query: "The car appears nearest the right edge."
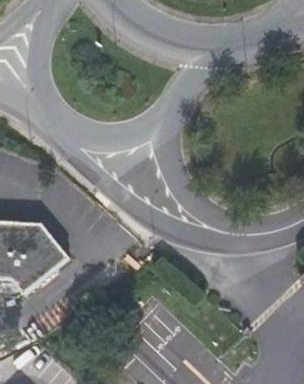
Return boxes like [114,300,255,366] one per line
[33,351,51,370]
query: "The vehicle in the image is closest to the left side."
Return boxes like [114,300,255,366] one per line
[12,344,40,369]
